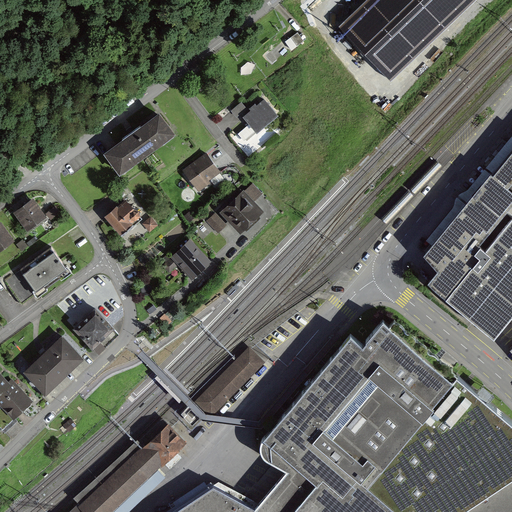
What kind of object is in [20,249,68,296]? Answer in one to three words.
building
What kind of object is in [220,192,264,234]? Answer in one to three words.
house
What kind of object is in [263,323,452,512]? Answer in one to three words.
building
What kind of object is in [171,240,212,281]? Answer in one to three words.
house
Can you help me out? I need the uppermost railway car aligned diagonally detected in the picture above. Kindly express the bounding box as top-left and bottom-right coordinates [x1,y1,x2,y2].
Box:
[410,160,442,194]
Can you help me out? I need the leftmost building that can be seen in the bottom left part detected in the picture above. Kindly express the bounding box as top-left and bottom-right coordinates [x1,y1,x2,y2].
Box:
[0,374,32,419]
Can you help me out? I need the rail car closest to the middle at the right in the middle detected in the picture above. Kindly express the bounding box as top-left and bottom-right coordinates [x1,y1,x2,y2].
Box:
[381,190,414,224]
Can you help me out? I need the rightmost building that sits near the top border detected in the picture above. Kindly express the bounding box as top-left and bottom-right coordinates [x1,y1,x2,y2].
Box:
[338,0,477,81]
